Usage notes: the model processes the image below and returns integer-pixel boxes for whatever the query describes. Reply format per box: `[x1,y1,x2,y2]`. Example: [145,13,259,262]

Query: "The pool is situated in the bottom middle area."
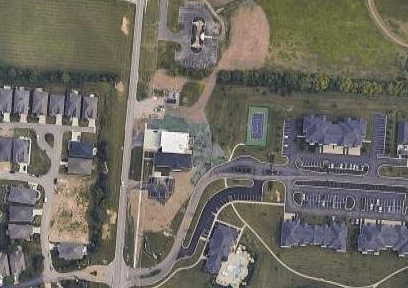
[219,246,252,288]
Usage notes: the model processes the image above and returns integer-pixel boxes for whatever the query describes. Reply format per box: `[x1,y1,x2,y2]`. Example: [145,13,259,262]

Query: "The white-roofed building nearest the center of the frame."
[160,131,189,153]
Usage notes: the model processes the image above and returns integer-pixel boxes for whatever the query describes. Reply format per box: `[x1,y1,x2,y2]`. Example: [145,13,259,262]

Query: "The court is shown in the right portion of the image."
[247,105,268,145]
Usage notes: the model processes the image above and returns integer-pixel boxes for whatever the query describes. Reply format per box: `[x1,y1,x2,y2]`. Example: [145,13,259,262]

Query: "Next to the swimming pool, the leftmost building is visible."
[205,224,240,272]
